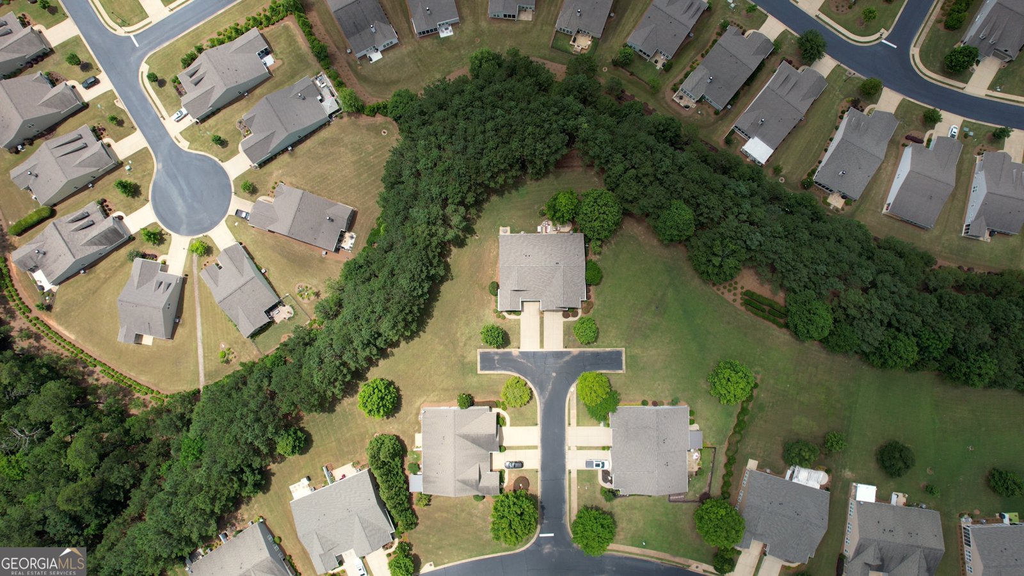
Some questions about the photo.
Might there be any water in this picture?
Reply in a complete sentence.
No, no water is visible.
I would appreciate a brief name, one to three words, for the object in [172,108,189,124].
car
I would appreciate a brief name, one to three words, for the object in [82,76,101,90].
car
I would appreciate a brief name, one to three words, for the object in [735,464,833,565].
house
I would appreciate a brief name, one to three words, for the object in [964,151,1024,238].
house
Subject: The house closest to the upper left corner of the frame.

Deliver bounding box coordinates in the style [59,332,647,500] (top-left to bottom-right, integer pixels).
[0,11,50,78]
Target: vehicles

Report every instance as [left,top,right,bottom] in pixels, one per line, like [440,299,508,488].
[505,460,524,468]
[82,76,101,90]
[172,108,189,124]
[947,122,958,137]
[586,460,609,469]
[355,560,370,576]
[230,207,248,220]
